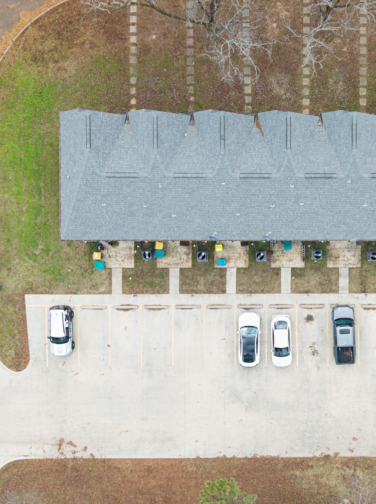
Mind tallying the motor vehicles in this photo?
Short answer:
4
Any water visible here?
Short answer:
No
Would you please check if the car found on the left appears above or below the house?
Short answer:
below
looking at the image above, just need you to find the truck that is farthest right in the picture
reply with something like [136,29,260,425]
[330,305,357,367]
